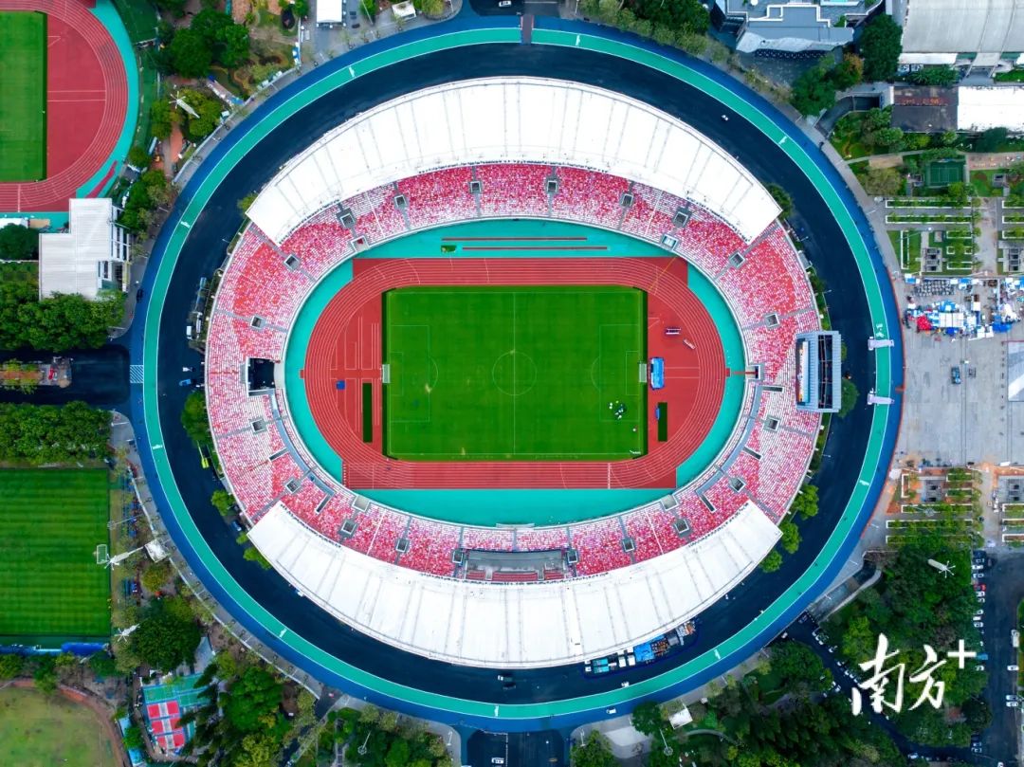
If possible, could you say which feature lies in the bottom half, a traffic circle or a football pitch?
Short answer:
football pitch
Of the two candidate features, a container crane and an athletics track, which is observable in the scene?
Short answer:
athletics track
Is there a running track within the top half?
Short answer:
Yes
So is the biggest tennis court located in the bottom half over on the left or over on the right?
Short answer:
left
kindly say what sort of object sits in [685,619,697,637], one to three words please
vehicle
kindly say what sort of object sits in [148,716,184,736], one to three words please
sports court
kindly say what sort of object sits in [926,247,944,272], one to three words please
building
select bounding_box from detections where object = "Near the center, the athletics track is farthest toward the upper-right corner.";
[285,222,754,525]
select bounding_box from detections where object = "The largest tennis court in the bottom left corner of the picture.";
[143,673,214,745]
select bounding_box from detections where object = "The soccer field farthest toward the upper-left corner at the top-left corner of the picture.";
[0,11,47,181]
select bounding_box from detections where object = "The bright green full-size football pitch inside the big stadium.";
[382,285,648,461]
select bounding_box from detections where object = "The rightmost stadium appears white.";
[205,78,820,669]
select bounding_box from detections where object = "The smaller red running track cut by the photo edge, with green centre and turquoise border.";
[0,0,138,230]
